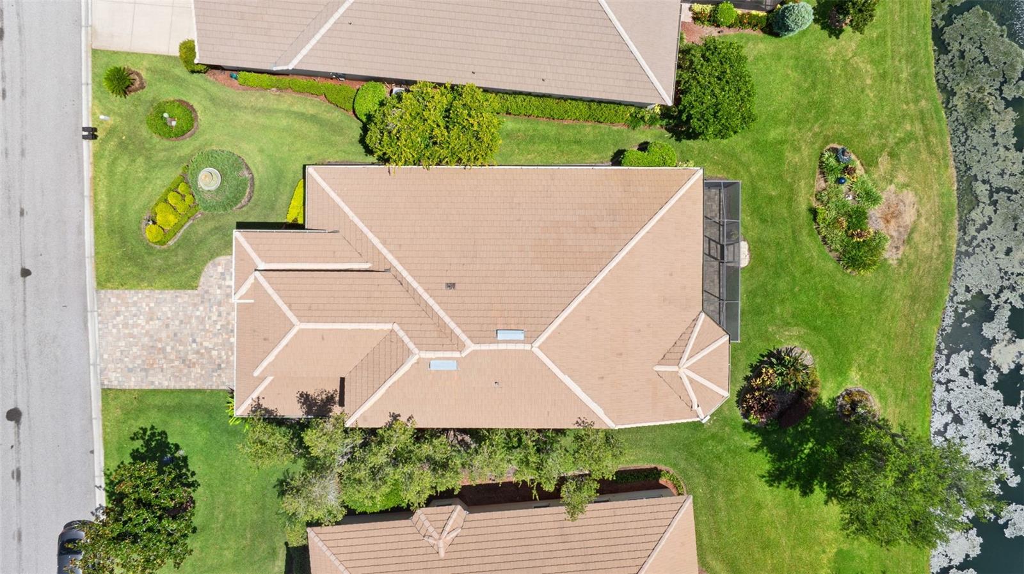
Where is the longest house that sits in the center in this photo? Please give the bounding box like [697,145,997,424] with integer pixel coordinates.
[232,165,731,430]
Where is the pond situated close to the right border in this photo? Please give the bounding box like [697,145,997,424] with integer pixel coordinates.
[922,0,1024,574]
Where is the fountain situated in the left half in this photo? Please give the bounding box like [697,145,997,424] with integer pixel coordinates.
[197,167,221,190]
